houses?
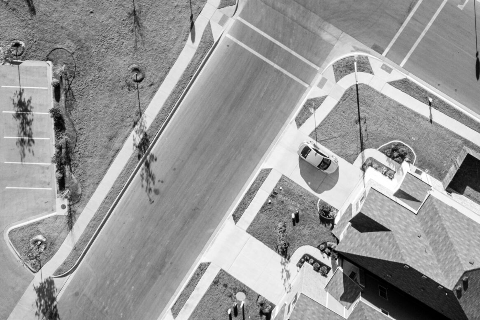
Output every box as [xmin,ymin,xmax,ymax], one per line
[331,169,480,320]
[275,267,396,320]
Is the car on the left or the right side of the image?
right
